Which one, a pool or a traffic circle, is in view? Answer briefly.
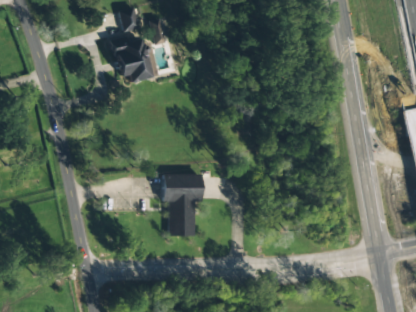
pool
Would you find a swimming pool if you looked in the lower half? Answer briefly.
No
